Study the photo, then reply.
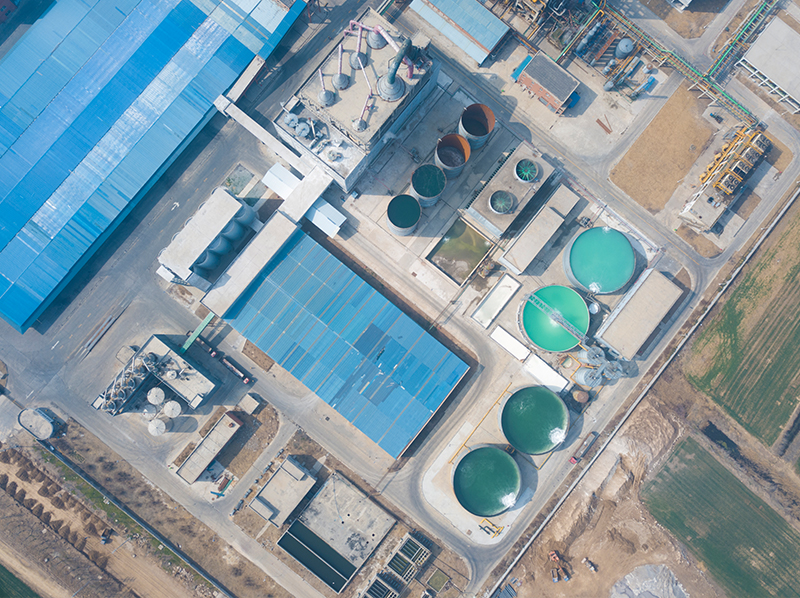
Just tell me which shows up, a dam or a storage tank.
storage tank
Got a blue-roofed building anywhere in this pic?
Yes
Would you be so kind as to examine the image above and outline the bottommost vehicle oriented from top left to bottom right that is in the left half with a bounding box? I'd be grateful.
[219,356,249,385]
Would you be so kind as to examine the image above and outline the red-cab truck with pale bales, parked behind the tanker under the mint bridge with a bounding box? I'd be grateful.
[184,331,217,359]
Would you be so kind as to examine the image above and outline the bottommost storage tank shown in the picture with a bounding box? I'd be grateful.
[452,445,521,517]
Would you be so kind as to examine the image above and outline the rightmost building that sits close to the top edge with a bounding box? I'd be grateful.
[726,16,800,124]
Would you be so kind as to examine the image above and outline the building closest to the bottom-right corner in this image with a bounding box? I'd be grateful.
[595,270,684,361]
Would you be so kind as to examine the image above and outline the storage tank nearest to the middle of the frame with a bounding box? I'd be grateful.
[387,194,421,235]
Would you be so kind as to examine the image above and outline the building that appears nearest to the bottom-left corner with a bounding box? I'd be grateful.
[17,407,60,441]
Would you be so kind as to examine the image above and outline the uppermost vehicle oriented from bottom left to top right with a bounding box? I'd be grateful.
[570,433,598,467]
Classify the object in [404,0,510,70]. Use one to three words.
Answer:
building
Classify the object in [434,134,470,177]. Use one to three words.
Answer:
storage tank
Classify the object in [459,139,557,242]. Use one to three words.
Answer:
cooling tower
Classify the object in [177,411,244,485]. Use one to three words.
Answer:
shed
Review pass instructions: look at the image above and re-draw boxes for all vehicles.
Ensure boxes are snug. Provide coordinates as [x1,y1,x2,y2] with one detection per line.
[184,331,217,359]
[549,550,566,578]
[97,530,111,546]
[219,356,249,385]
[581,557,598,575]
[570,433,598,467]
[558,566,572,585]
